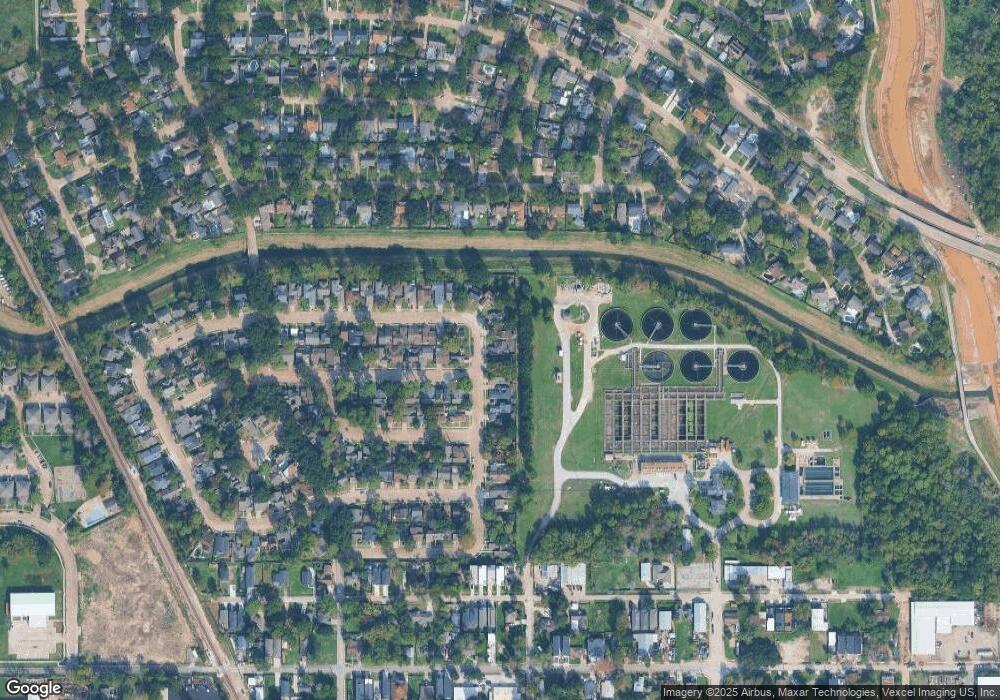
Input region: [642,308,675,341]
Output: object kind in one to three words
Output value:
storage tank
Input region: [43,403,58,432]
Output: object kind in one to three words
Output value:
building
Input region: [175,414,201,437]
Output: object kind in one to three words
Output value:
house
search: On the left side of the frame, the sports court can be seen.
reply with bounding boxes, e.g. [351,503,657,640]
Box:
[54,466,86,503]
